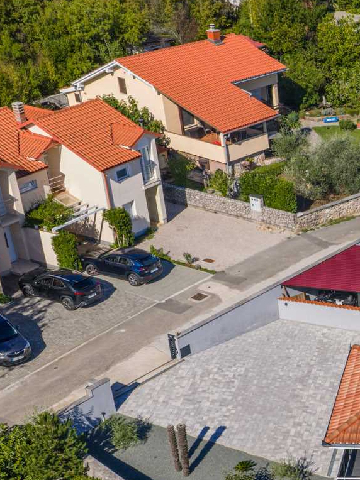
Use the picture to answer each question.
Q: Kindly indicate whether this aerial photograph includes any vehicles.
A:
Yes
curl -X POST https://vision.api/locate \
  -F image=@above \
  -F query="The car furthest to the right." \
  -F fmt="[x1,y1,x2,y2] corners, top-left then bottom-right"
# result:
[84,239,168,283]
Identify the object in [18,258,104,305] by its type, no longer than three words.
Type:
car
